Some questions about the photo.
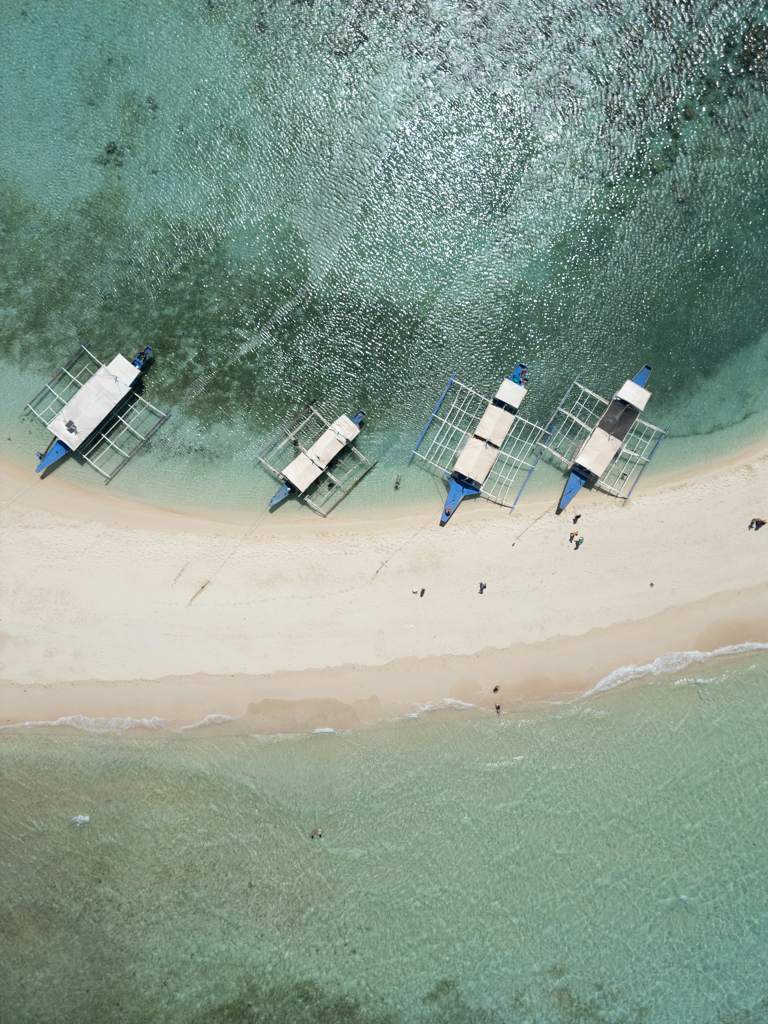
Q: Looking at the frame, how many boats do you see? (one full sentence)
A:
The photo contains 4 boats.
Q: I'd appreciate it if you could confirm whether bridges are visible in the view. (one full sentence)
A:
No, the photo shows no bridge.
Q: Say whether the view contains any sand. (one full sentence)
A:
Yes, sand can be seen from above here.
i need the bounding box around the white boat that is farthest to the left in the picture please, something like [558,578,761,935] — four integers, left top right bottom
[24,340,170,482]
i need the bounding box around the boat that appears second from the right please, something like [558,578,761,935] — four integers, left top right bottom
[410,363,556,523]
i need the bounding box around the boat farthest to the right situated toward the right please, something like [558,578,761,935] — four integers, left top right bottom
[533,364,670,511]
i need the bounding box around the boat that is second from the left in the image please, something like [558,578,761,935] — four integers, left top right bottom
[252,400,378,518]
